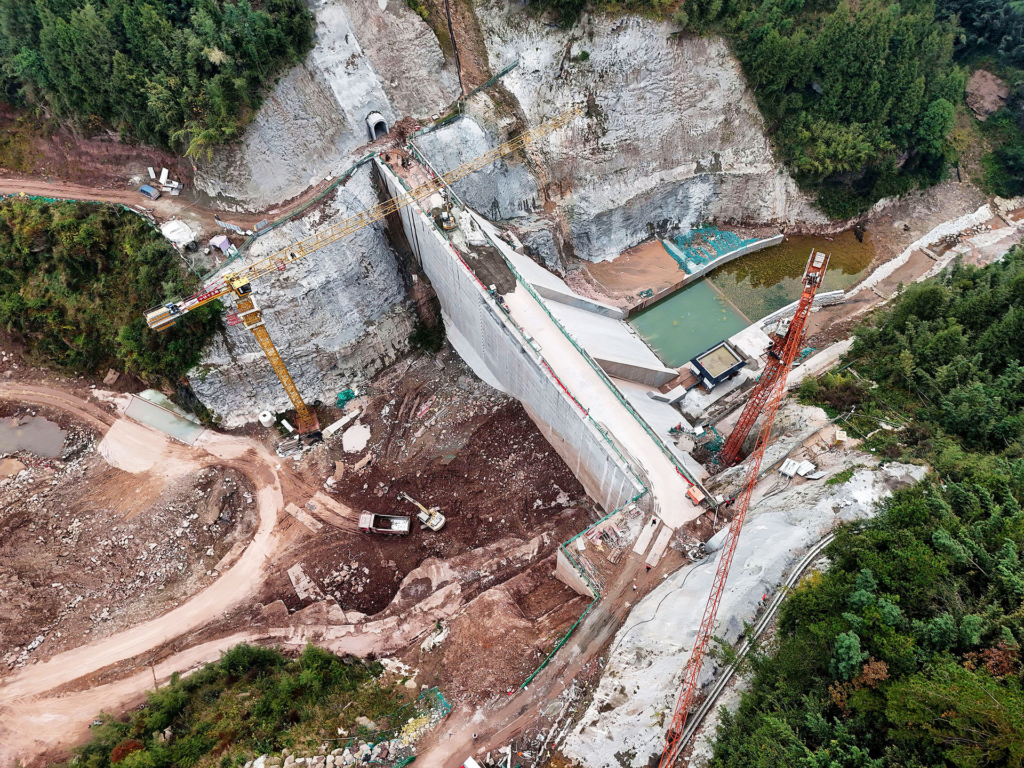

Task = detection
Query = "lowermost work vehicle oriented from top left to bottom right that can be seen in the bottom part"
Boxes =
[403,490,446,528]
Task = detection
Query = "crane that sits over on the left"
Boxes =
[131,104,587,436]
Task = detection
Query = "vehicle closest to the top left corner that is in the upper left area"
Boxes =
[136,184,161,197]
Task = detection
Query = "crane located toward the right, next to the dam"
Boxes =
[657,247,833,768]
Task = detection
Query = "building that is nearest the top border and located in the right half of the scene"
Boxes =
[689,346,744,394]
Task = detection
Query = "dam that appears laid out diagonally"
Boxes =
[378,145,720,521]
